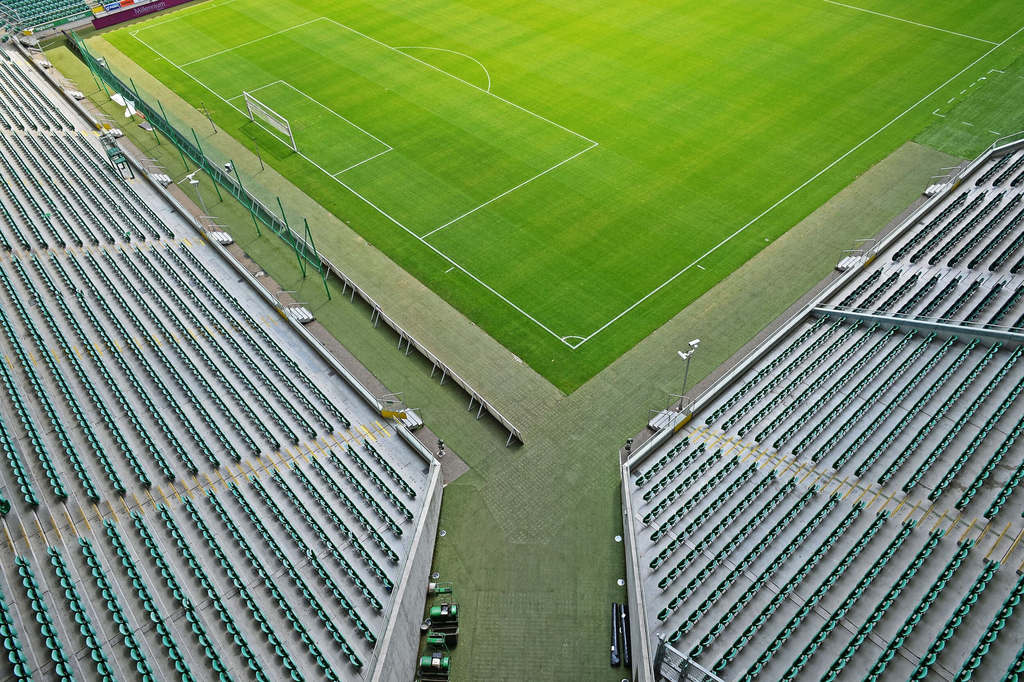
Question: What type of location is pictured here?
sports ground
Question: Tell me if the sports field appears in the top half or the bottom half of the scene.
top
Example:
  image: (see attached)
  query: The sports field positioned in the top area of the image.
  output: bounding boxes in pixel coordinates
[98,0,1024,397]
